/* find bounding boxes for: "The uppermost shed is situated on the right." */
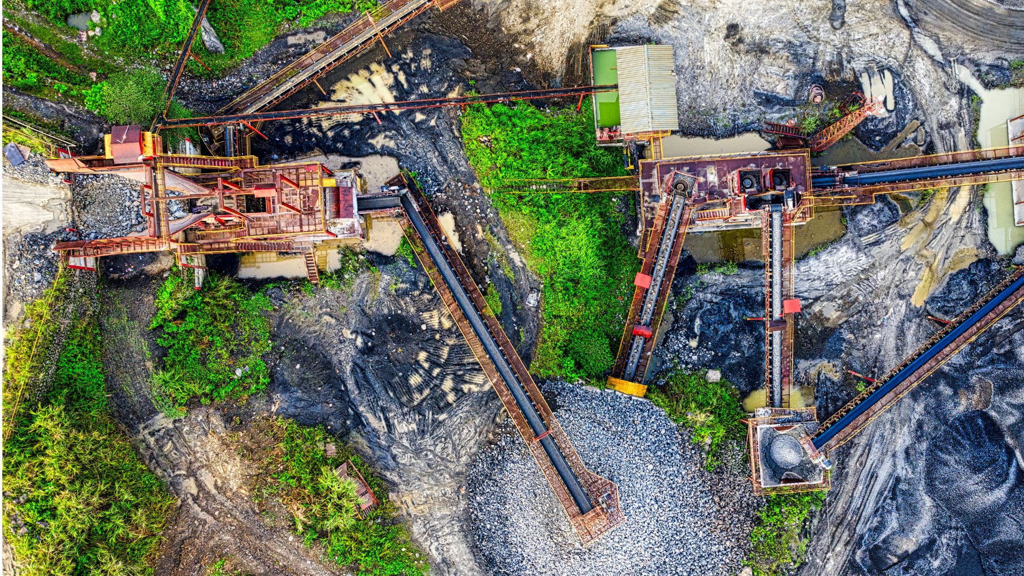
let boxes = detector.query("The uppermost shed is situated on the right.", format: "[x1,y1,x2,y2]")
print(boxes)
[617,45,679,133]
